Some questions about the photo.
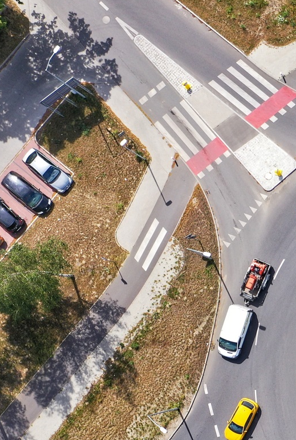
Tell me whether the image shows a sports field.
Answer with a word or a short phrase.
No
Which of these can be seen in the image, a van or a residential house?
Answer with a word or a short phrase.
van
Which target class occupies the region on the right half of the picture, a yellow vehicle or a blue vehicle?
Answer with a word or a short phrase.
yellow vehicle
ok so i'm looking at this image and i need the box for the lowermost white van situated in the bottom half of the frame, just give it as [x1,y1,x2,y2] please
[215,304,253,360]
